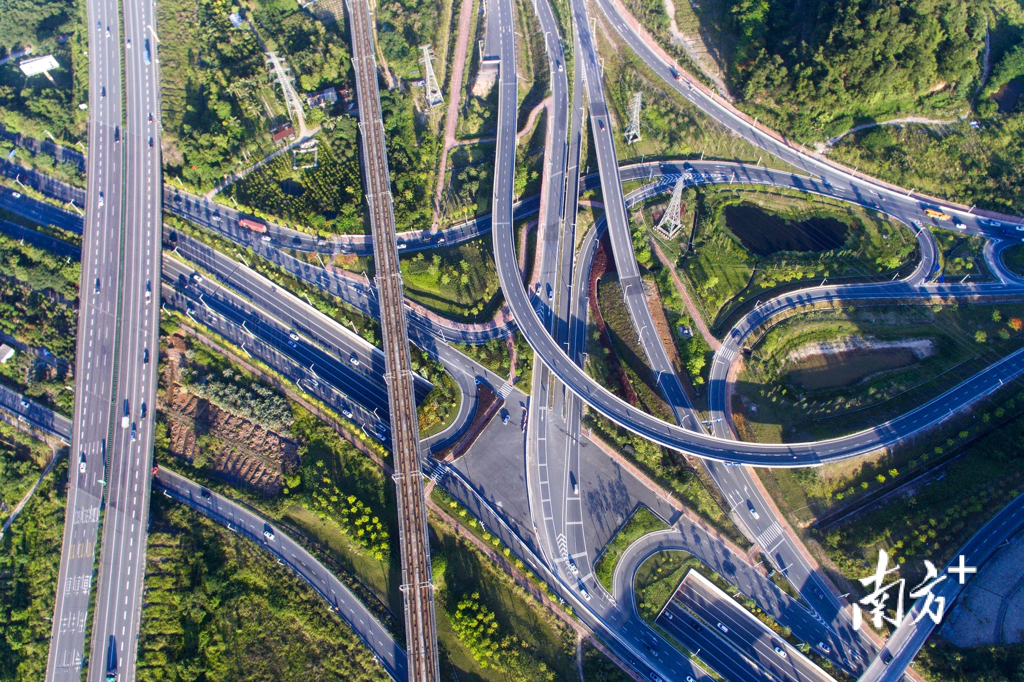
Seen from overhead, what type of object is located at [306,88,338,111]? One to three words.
shed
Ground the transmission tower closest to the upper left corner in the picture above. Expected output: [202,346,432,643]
[271,55,306,118]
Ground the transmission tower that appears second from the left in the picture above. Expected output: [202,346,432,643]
[422,48,446,108]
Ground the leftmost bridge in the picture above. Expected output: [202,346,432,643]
[42,0,163,682]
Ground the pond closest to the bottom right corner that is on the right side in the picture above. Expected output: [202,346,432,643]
[788,347,918,391]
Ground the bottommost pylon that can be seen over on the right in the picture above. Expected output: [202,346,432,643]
[649,168,689,243]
